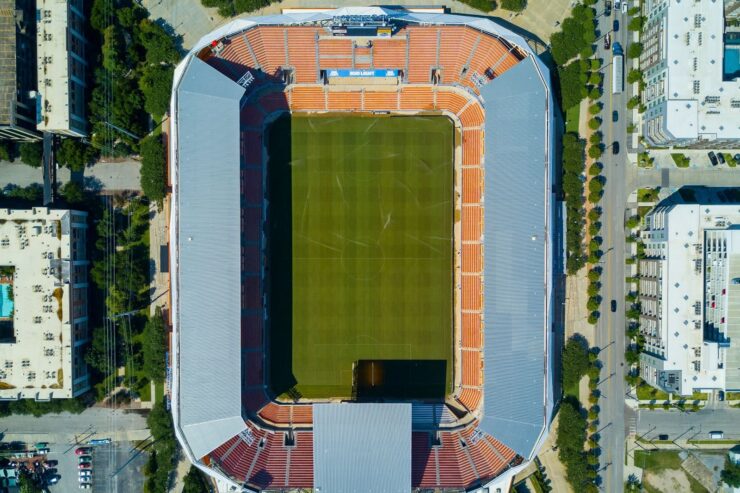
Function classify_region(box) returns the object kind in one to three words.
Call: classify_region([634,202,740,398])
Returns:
building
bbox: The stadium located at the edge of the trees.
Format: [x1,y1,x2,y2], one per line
[170,7,554,493]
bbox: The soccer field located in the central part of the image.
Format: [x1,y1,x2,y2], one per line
[269,116,453,400]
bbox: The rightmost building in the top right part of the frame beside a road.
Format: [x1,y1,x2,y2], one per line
[638,0,740,151]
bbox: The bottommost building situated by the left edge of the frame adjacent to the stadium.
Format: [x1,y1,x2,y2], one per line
[0,207,94,400]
